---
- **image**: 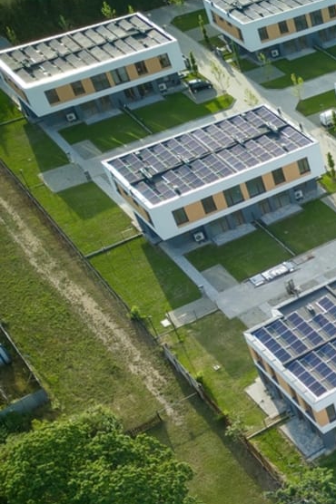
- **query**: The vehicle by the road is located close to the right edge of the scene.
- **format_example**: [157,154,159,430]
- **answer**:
[317,102,336,124]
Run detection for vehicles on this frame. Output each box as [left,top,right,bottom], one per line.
[317,102,336,124]
[184,79,214,94]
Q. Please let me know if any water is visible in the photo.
No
